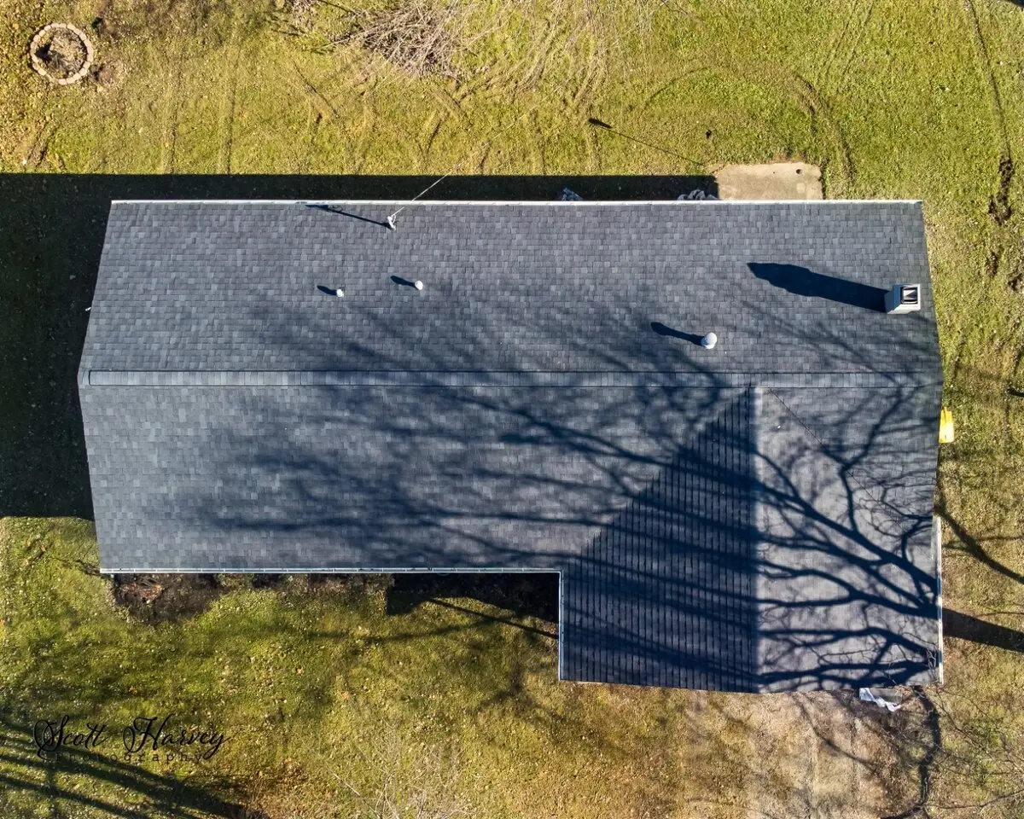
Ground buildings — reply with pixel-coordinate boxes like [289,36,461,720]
[78,198,942,693]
